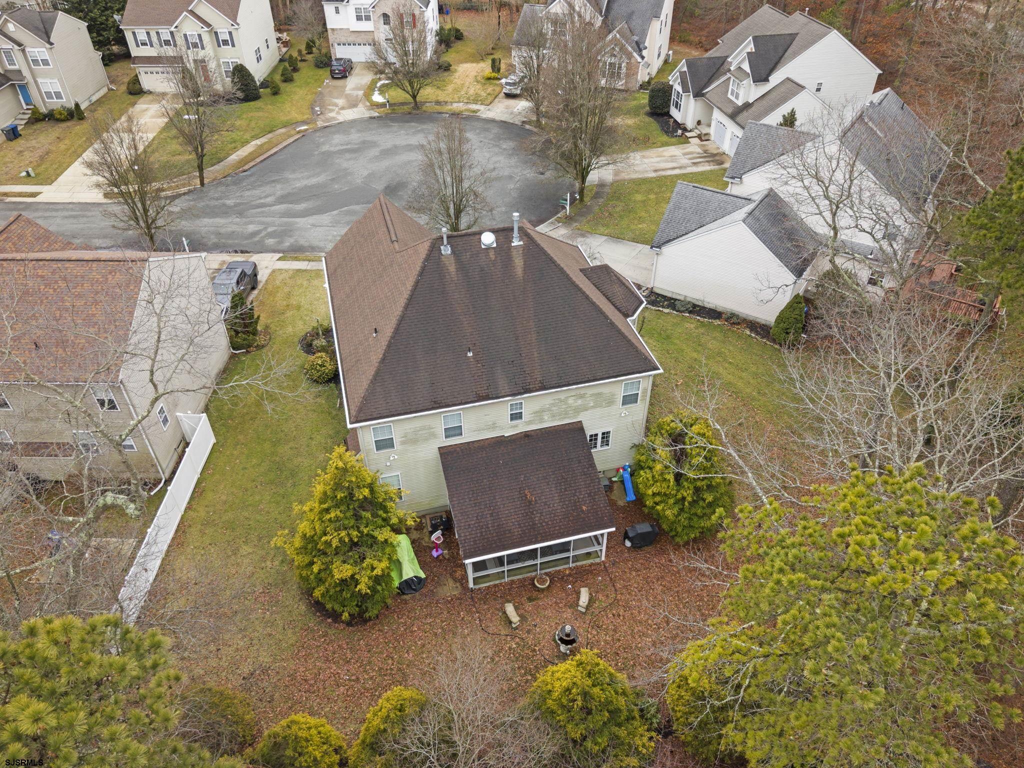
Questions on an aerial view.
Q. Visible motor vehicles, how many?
3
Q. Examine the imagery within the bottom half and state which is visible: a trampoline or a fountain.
fountain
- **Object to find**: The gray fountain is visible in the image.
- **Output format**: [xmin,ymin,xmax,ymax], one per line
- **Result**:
[552,621,581,657]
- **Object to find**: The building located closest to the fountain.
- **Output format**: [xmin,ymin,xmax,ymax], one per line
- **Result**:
[323,196,667,594]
